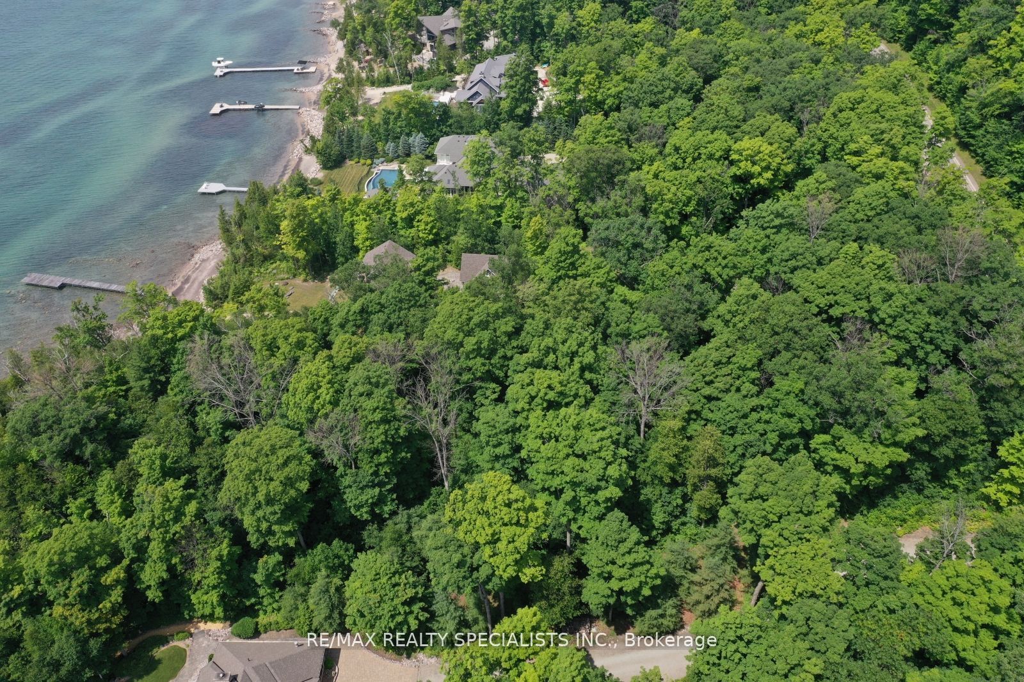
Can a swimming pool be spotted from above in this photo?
Yes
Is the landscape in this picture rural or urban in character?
rural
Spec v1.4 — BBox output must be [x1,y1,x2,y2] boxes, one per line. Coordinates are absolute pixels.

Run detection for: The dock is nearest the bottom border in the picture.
[21,273,149,297]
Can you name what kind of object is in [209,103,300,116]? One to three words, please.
pier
